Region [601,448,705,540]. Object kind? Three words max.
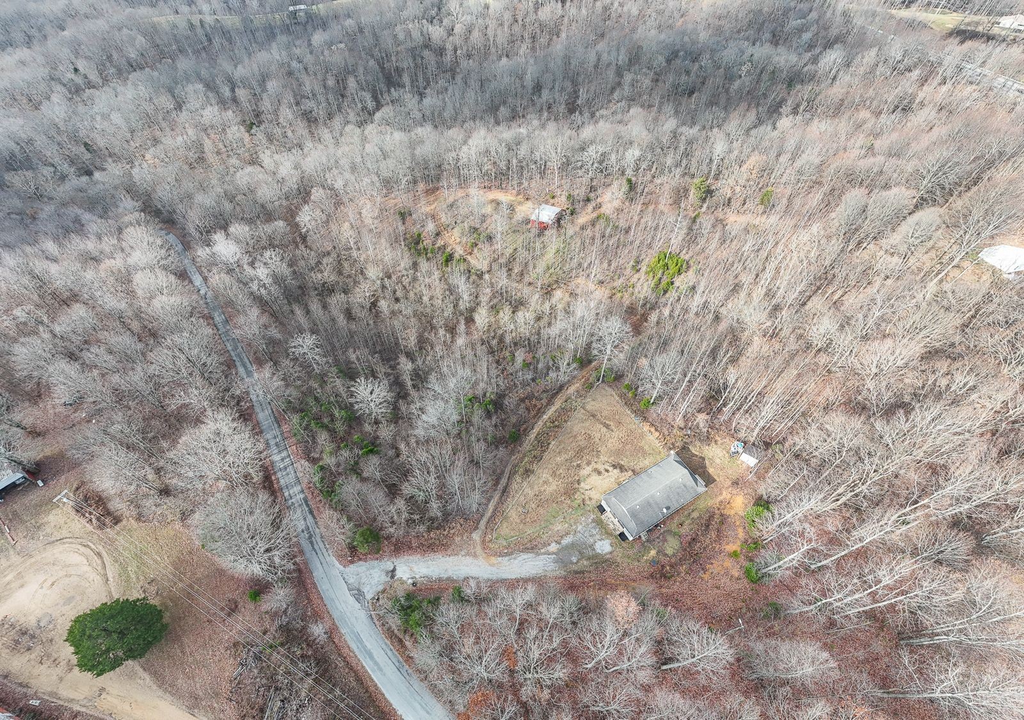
house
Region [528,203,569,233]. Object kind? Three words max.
barn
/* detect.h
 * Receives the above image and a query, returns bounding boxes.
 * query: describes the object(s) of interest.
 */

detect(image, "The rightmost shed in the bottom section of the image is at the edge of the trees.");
[741,442,766,468]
